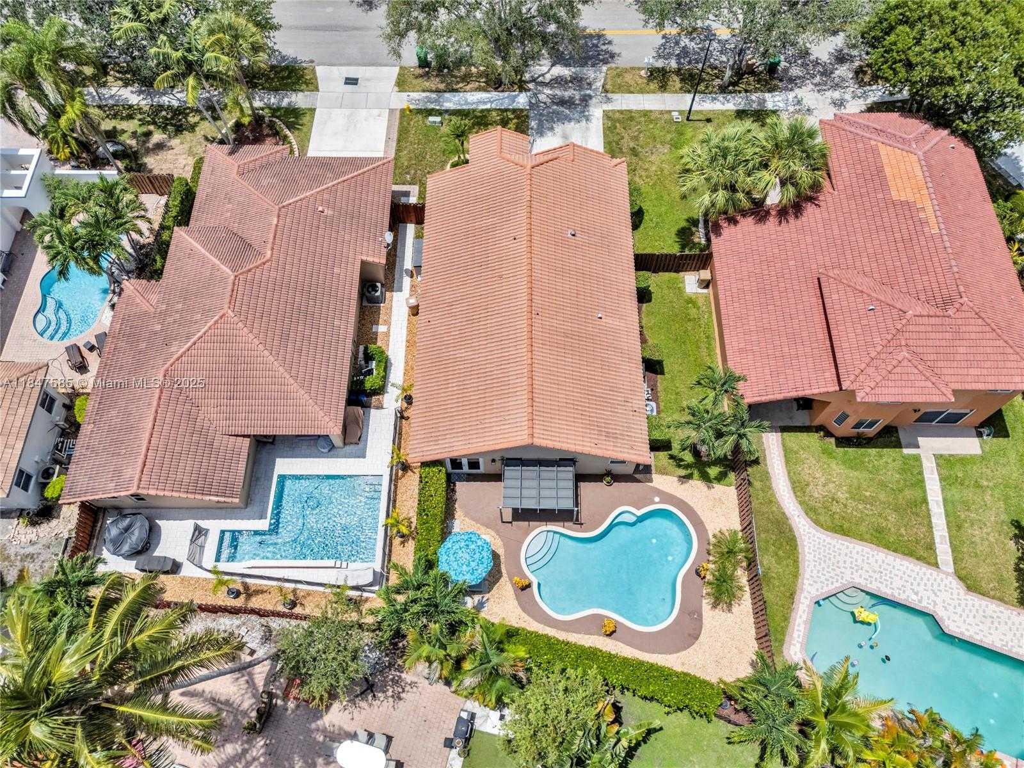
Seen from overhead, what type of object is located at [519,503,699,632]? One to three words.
swimming pool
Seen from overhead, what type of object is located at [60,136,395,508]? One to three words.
house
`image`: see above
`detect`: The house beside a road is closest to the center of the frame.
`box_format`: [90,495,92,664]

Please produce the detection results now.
[407,126,652,476]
